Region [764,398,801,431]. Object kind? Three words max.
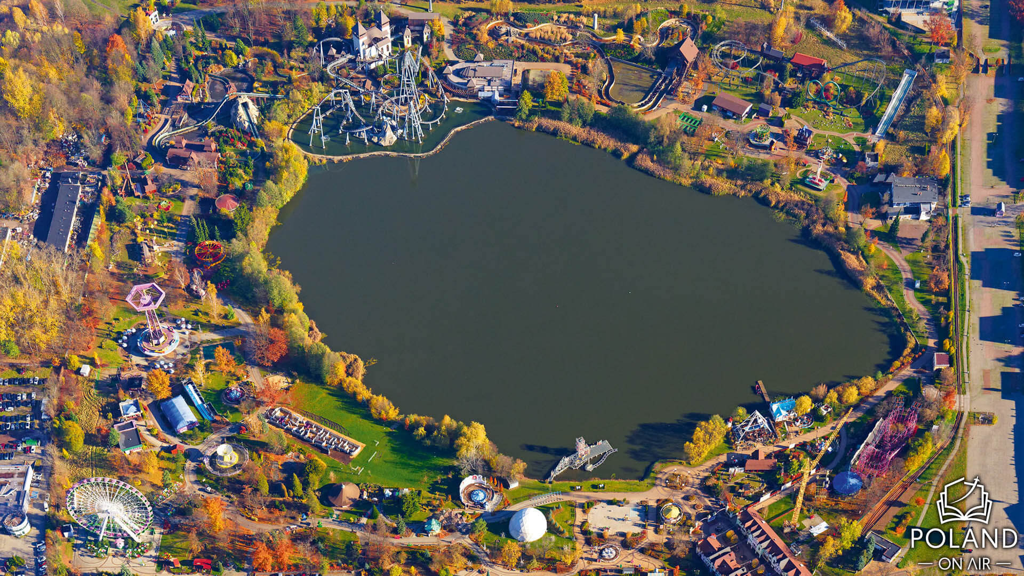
building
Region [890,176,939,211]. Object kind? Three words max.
building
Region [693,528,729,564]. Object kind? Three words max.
house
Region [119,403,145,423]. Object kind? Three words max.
house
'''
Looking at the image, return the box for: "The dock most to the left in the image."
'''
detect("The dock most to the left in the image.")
[546,435,618,482]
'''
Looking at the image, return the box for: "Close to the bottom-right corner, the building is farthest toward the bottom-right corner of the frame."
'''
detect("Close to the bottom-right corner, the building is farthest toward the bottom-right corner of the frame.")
[864,531,902,564]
